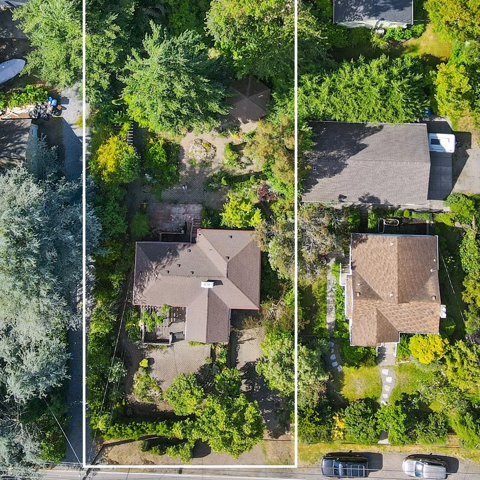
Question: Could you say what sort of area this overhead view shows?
residential area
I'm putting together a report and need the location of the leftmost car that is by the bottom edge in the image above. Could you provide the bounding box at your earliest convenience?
[320,454,369,480]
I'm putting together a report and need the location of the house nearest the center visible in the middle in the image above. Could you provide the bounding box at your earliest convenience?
[132,228,262,344]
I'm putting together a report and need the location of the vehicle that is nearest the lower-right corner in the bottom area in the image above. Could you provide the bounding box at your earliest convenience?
[401,455,448,480]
